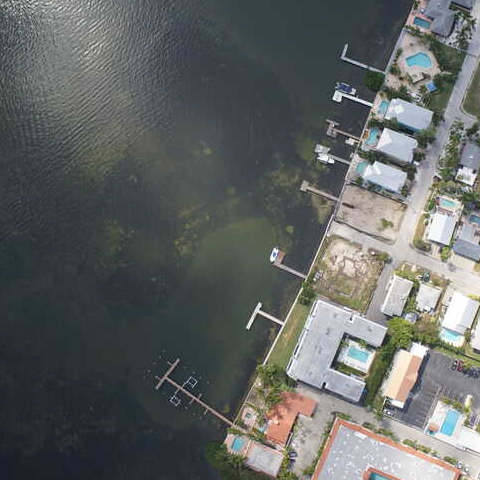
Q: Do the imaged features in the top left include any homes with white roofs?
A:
No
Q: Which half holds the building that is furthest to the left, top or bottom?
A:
bottom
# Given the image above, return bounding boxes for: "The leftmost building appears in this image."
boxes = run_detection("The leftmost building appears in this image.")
[246,439,283,476]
